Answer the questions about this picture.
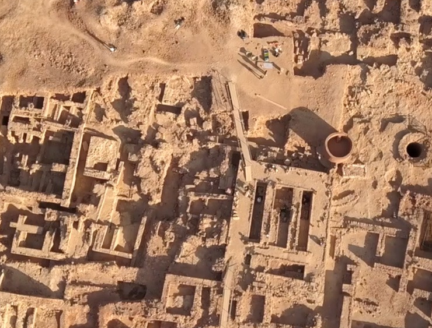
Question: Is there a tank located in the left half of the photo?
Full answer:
No, no tank can be made out in the left half of the photo.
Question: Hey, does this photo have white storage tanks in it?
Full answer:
No, I can't see a single white storage tank in this photo.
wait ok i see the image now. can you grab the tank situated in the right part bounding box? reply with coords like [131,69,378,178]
[324,137,352,165]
